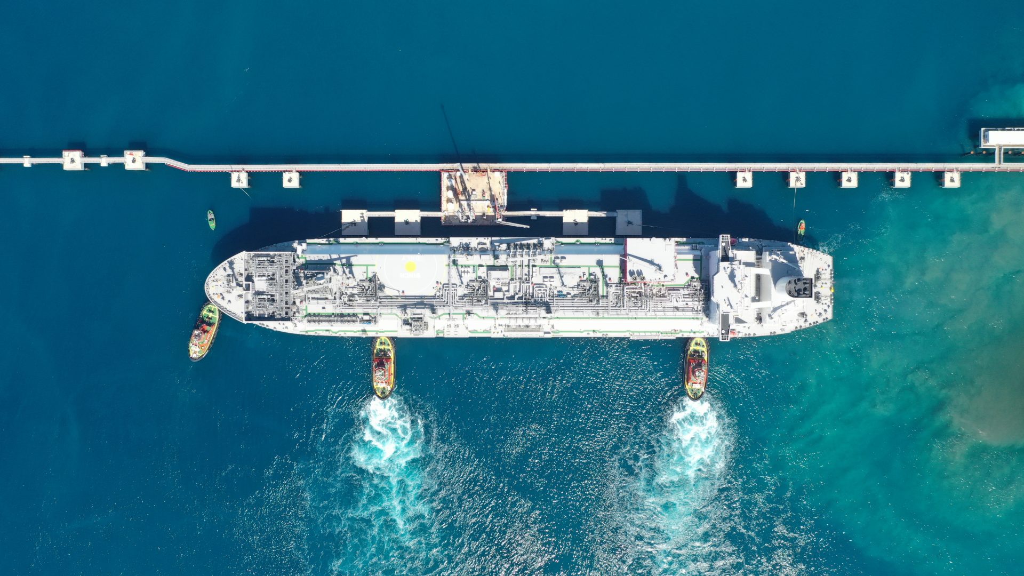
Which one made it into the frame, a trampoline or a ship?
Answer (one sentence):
Looking from above, you can make out a ship.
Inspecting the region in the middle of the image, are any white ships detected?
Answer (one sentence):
Yes, there is a white ship in the middle of the image.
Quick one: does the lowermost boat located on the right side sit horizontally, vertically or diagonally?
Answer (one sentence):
Seen from above, the lowermost boat located on the right side lies vertically.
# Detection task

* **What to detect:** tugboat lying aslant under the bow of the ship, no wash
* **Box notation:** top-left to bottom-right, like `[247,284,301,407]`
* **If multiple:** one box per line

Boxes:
[190,302,221,361]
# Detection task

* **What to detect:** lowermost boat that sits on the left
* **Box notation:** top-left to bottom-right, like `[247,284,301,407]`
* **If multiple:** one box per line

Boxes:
[371,337,396,399]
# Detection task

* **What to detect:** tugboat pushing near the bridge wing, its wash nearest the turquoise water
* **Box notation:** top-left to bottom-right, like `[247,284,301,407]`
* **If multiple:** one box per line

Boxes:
[684,337,709,400]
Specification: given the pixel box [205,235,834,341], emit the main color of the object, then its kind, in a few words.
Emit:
white ship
